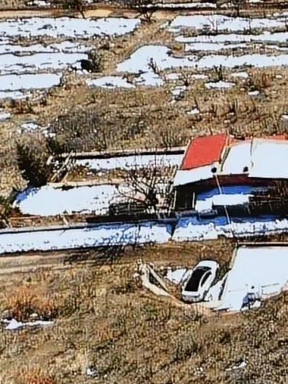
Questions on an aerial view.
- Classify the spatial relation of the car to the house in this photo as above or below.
below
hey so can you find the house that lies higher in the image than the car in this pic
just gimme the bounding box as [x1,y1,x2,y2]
[173,132,288,207]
